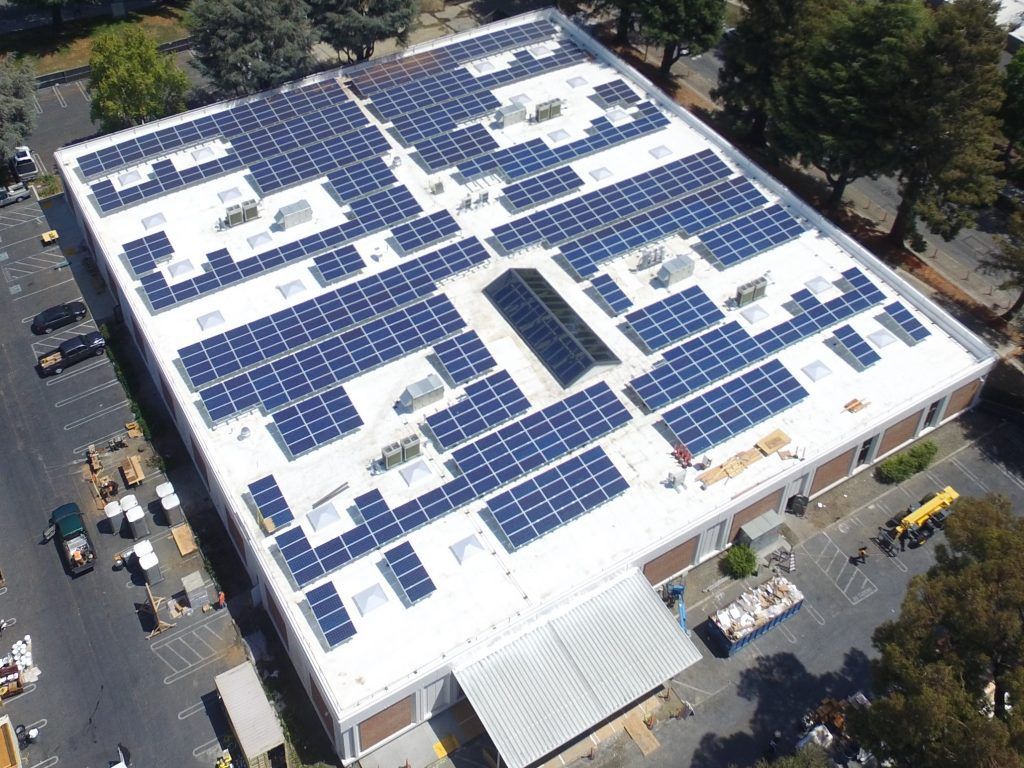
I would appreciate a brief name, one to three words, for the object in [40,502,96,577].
truck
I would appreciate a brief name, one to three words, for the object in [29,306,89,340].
car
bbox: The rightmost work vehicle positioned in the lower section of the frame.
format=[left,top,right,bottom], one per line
[885,481,962,544]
